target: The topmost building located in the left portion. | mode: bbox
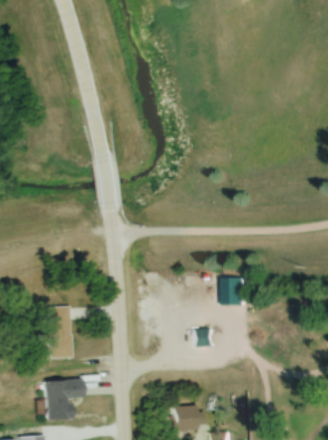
[51,306,73,358]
